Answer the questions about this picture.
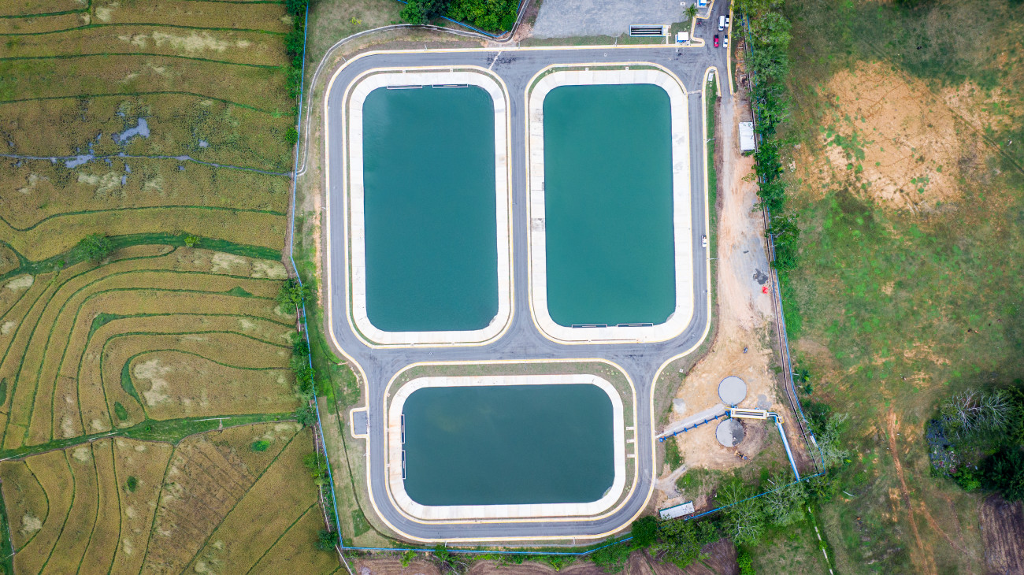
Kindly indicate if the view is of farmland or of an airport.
farmland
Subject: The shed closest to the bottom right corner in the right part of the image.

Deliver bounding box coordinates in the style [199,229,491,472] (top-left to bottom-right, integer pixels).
[659,502,695,523]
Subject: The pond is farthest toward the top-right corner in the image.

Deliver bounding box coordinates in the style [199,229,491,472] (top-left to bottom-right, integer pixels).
[530,70,690,341]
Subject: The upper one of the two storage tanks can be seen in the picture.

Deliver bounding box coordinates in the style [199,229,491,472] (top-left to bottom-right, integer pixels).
[718,376,748,405]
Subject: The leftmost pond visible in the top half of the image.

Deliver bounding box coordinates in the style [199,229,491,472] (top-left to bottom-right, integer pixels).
[350,72,510,344]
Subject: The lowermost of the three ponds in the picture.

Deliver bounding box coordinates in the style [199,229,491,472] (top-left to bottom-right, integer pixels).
[389,374,625,519]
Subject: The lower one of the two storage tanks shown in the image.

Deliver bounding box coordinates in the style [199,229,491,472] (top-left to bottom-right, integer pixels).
[715,418,746,447]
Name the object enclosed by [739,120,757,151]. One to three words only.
shed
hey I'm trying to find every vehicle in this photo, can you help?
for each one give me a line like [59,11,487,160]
[734,447,750,460]
[702,235,708,248]
[719,16,725,30]
[725,14,730,28]
[723,34,729,48]
[714,34,720,47]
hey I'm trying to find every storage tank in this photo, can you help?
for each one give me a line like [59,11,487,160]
[718,376,748,405]
[715,418,746,447]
